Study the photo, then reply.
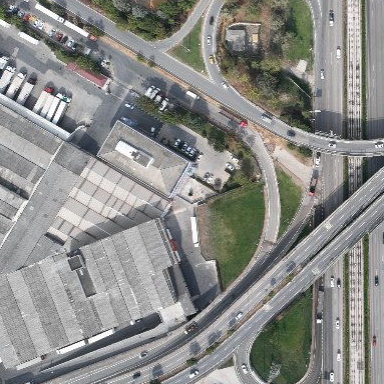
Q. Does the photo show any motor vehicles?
Yes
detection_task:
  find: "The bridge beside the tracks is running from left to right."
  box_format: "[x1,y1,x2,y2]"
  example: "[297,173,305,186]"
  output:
[289,128,384,158]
